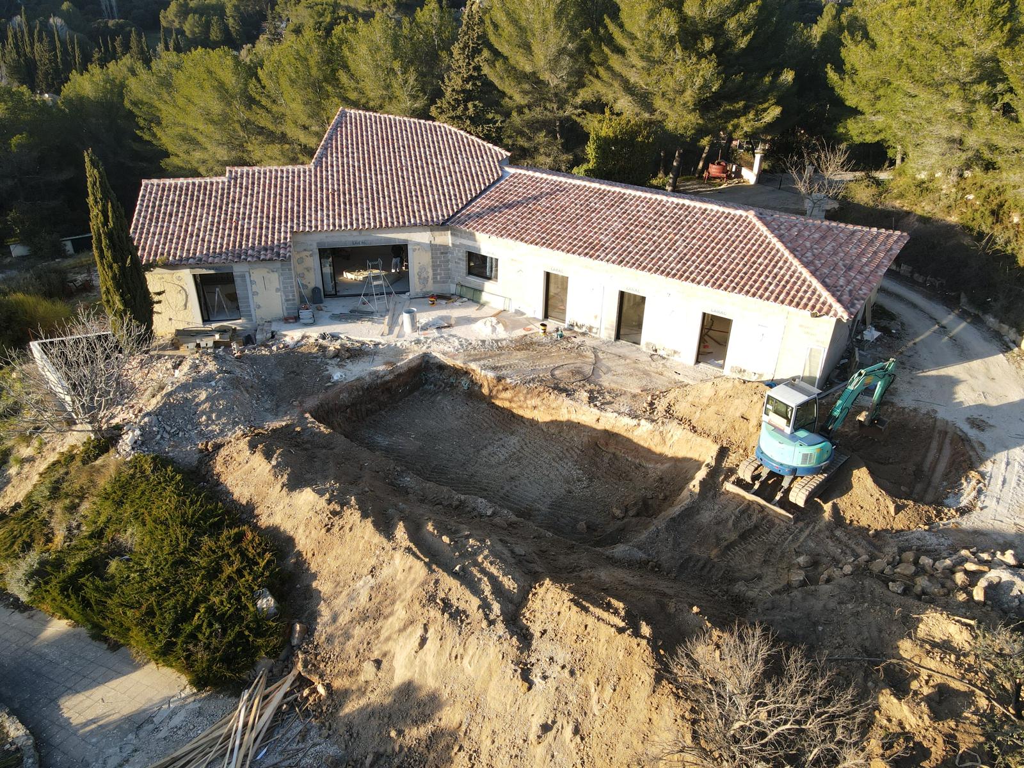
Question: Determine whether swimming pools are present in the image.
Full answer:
No, no swimming pool is visible in the view.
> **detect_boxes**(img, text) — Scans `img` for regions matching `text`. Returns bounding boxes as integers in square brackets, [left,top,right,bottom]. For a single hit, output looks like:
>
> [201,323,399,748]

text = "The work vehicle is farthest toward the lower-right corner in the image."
[727,356,904,526]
